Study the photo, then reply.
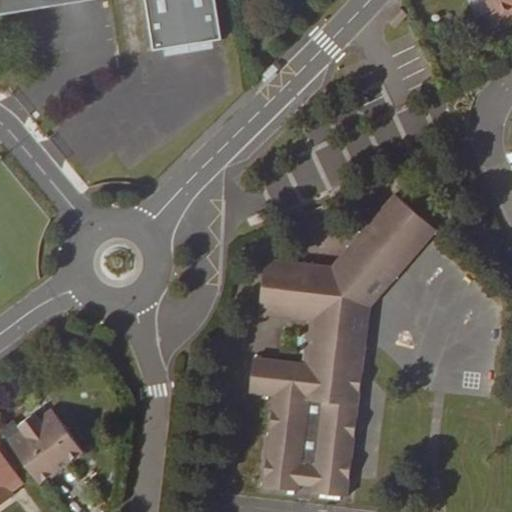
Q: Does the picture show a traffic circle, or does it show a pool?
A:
traffic circle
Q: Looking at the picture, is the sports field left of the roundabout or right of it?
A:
left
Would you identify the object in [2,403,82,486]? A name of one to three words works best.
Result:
house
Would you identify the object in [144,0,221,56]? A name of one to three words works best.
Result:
building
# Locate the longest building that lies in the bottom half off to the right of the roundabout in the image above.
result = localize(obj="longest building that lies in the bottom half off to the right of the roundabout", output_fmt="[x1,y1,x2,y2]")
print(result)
[248,193,434,501]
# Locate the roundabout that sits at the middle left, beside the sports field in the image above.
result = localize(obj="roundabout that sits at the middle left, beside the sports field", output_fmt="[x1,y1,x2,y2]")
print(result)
[66,206,172,316]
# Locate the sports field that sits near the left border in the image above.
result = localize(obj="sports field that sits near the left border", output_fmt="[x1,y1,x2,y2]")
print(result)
[0,160,49,306]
